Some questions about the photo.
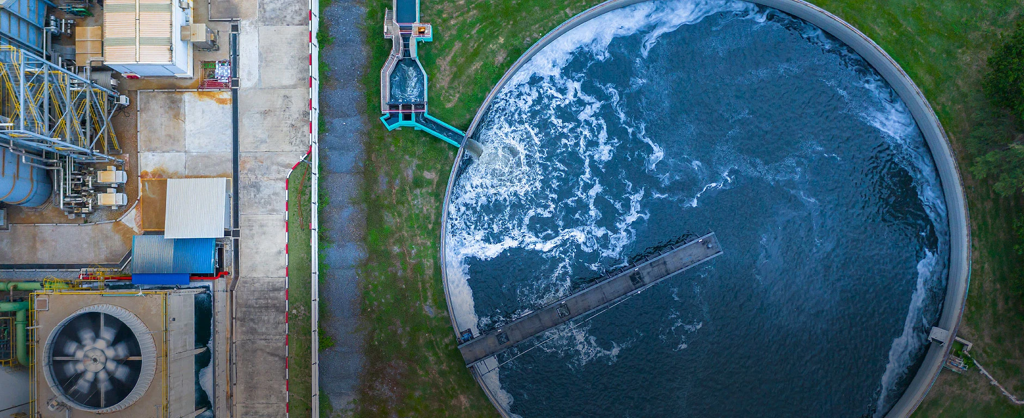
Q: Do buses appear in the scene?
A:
No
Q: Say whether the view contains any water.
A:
Yes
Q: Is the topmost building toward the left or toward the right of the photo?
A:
left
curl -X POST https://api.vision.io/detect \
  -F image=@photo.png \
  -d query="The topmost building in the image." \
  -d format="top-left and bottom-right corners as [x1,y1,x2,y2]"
[104,0,199,79]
